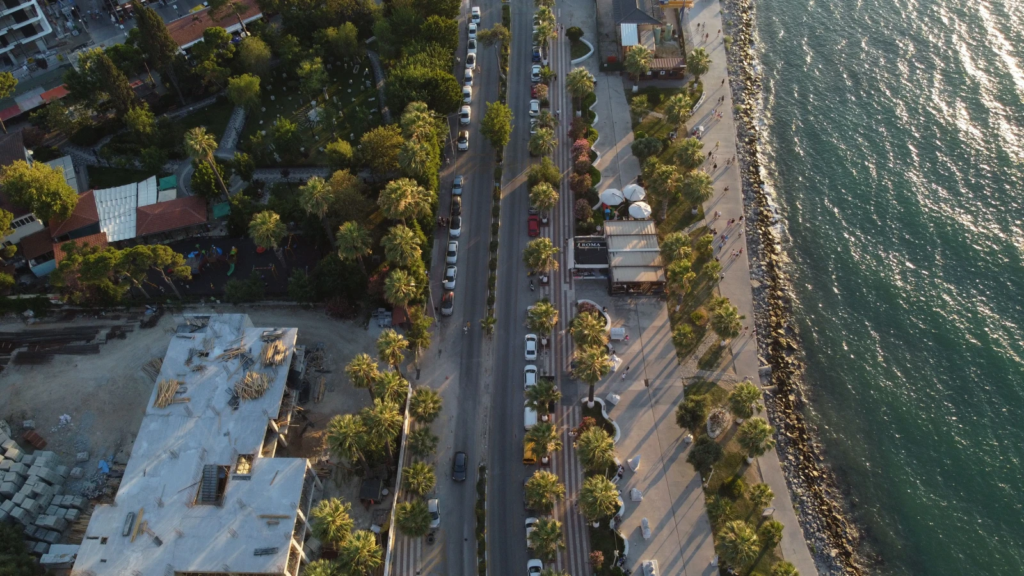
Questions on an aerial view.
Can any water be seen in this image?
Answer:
Yes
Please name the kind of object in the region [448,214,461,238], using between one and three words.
vehicle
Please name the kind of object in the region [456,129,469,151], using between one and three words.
vehicle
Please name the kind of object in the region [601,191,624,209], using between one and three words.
umbrella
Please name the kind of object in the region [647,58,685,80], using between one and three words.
building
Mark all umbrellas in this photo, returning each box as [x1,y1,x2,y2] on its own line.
[622,186,645,215]
[627,203,651,221]
[601,191,624,209]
